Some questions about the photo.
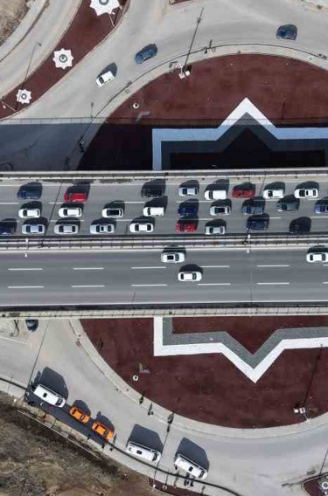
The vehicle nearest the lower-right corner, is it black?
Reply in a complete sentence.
No, the color of the vehicle nearest the lower-right corner is white.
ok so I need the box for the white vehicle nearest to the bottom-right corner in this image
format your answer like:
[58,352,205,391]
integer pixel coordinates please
[172,453,208,477]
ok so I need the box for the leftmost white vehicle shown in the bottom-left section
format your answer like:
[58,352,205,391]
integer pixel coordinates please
[30,381,67,408]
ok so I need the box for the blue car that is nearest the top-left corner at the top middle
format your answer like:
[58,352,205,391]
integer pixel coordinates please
[134,46,157,62]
